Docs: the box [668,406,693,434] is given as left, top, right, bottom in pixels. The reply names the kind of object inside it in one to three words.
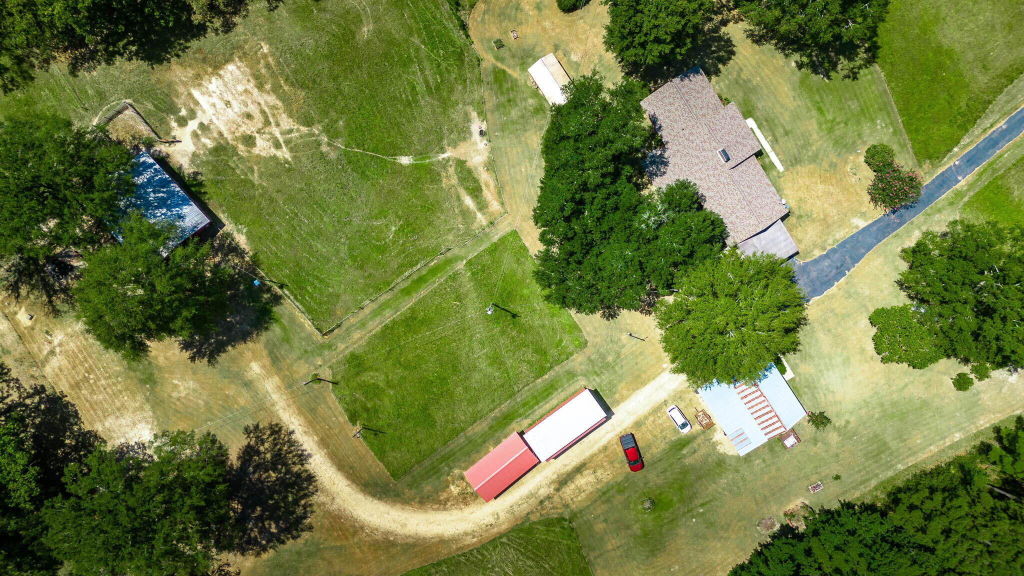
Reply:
car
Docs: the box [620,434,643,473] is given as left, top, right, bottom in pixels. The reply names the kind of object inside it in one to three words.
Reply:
truck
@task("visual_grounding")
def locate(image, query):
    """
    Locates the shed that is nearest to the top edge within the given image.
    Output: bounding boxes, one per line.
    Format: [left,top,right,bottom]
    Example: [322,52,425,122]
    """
[528,54,571,107]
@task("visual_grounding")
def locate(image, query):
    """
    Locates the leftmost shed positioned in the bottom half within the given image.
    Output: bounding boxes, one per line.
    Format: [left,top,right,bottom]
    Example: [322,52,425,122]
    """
[464,432,539,502]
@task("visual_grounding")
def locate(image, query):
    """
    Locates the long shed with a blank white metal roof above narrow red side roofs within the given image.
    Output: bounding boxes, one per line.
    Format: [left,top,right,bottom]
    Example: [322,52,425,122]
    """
[522,386,608,462]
